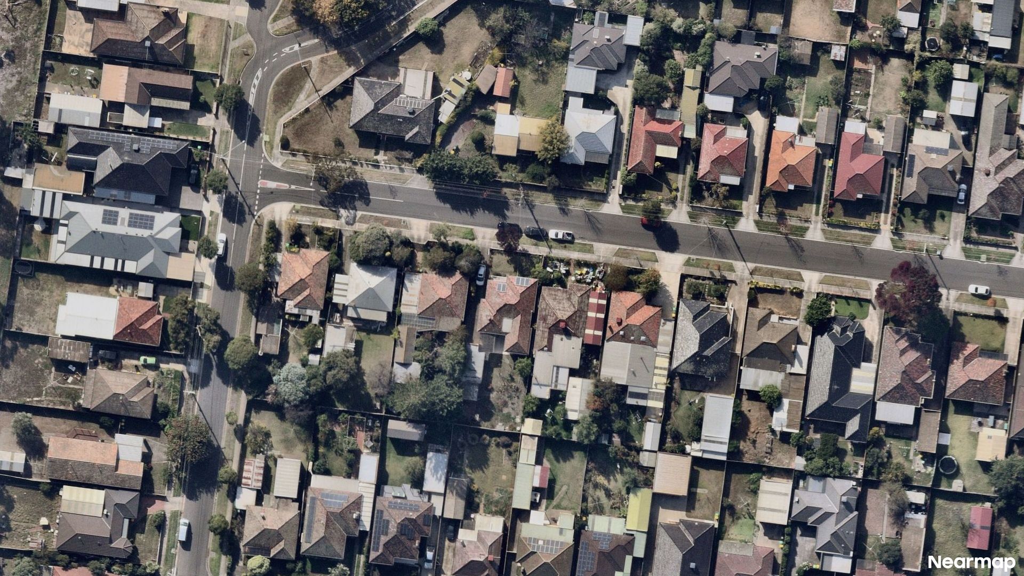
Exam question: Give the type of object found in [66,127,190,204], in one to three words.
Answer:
house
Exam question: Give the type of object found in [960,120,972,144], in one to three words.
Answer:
vehicle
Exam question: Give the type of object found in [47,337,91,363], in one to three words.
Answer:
shed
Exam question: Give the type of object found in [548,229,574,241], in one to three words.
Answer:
vehicle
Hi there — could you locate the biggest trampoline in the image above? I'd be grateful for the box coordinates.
[938,455,957,474]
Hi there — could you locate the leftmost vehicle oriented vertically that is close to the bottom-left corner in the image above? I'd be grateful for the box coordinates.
[177,517,190,542]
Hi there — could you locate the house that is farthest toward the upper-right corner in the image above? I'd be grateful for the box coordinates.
[970,0,1015,50]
